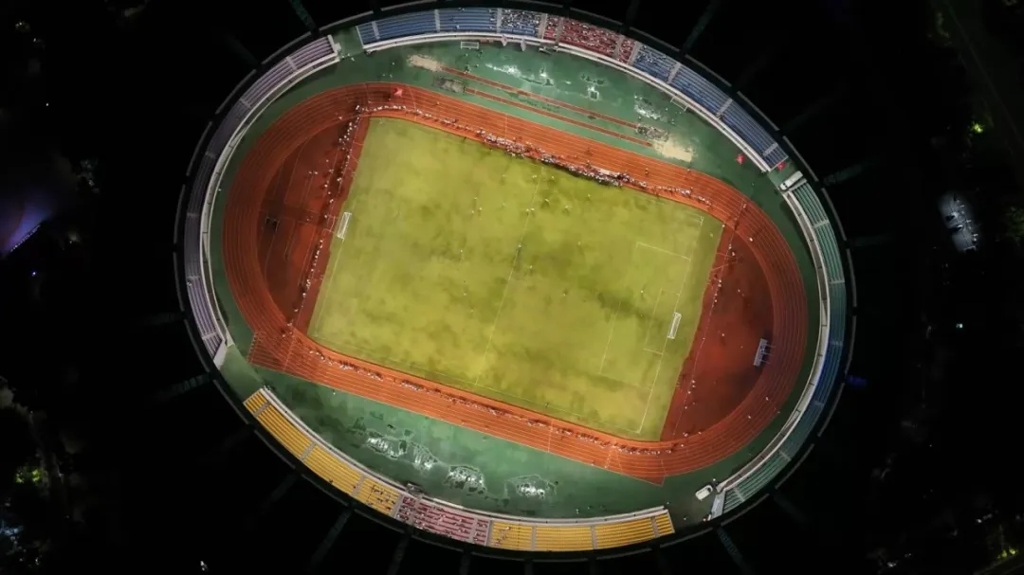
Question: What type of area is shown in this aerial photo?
sports ground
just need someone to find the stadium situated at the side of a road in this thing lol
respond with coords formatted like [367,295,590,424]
[134,0,896,575]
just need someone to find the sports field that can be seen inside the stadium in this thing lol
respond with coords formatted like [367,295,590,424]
[309,116,724,443]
